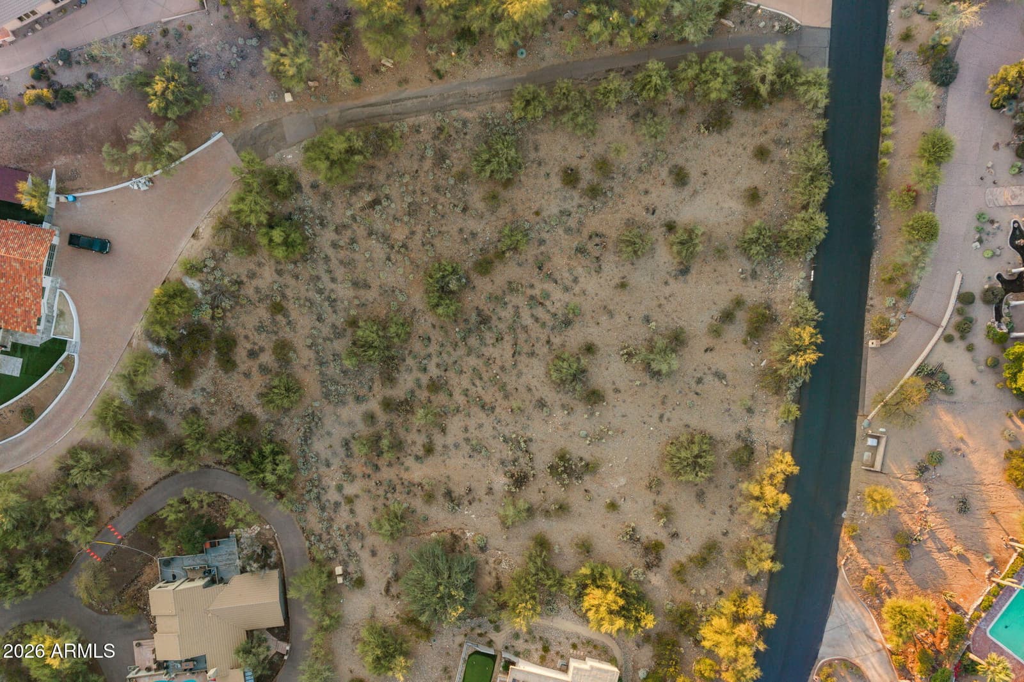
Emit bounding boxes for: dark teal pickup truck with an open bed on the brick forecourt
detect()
[68,234,112,253]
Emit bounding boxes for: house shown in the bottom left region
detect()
[149,567,288,682]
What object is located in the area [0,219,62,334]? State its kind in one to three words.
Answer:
house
